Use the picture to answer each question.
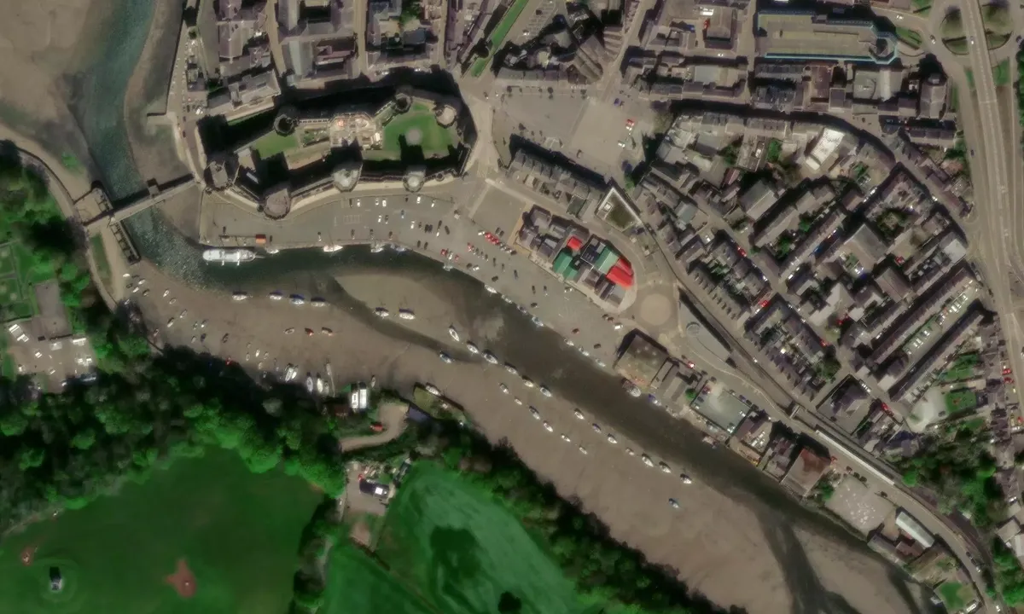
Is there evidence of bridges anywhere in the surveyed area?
Yes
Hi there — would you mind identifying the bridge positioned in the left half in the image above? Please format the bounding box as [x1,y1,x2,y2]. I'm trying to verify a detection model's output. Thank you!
[84,179,198,230]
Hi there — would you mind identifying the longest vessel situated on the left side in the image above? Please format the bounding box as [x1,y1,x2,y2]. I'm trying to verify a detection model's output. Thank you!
[203,252,254,268]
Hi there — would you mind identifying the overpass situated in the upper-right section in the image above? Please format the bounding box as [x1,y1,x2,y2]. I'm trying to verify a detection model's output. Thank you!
[962,0,1018,240]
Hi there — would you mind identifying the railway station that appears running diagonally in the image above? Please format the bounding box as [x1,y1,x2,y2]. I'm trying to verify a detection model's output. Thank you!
[807,427,900,496]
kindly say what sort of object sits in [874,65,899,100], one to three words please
building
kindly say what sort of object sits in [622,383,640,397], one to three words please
boat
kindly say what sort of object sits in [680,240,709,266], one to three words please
house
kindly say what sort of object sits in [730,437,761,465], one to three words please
shed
